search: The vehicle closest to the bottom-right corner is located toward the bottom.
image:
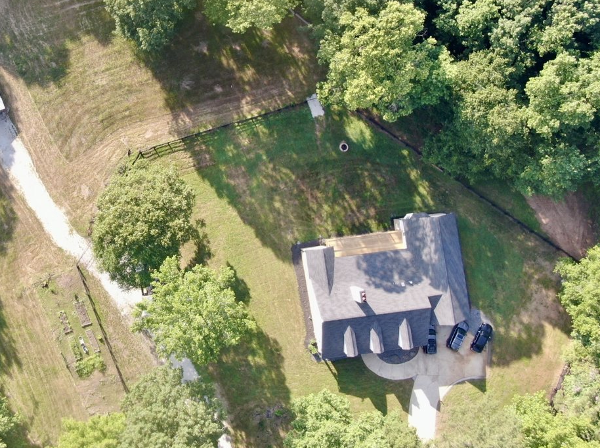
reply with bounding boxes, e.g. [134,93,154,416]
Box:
[471,323,492,354]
